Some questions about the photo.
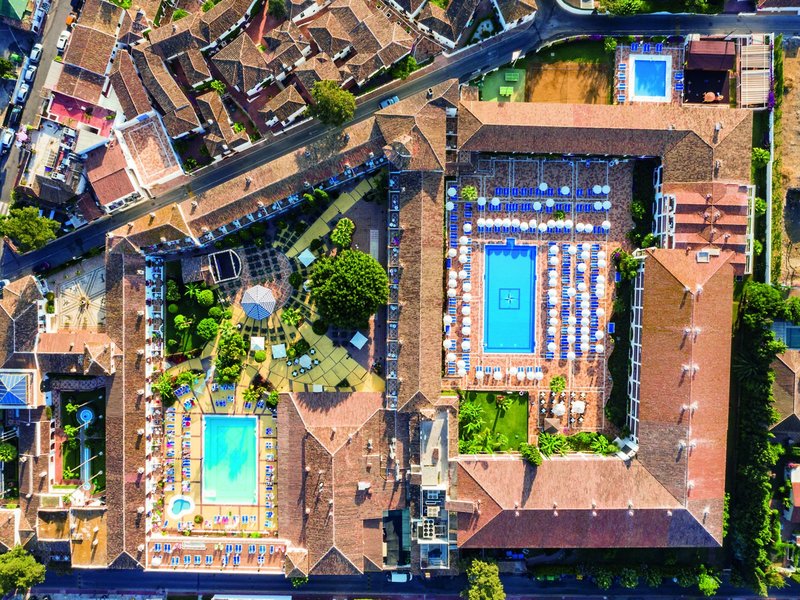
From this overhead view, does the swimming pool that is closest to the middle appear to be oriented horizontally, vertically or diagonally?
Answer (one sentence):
I'd say the swimming pool that is closest to the middle is aligned vertically in the picture.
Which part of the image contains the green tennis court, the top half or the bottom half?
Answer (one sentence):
You can find the green tennis court in the top half.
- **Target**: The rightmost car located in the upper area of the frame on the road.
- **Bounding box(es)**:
[379,94,400,109]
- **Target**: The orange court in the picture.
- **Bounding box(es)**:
[526,62,613,103]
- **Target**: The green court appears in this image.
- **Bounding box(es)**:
[479,69,525,101]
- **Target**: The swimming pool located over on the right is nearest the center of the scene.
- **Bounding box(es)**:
[483,237,538,354]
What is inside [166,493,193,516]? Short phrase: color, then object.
white swimming pool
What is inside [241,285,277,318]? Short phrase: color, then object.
white gazebo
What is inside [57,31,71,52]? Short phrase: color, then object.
white car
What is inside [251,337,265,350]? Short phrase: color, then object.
white umbrella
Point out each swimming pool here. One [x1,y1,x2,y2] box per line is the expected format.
[483,237,538,354]
[630,55,671,101]
[166,493,193,516]
[202,415,259,505]
[786,327,800,348]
